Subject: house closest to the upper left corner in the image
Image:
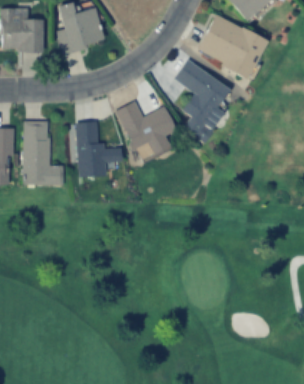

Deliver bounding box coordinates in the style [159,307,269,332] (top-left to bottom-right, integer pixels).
[0,6,44,52]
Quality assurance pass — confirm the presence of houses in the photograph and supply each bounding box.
[56,1,104,53]
[77,119,122,176]
[0,128,14,184]
[231,0,271,20]
[116,100,178,160]
[24,120,64,186]
[197,16,268,76]
[0,6,44,52]
[176,58,232,140]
